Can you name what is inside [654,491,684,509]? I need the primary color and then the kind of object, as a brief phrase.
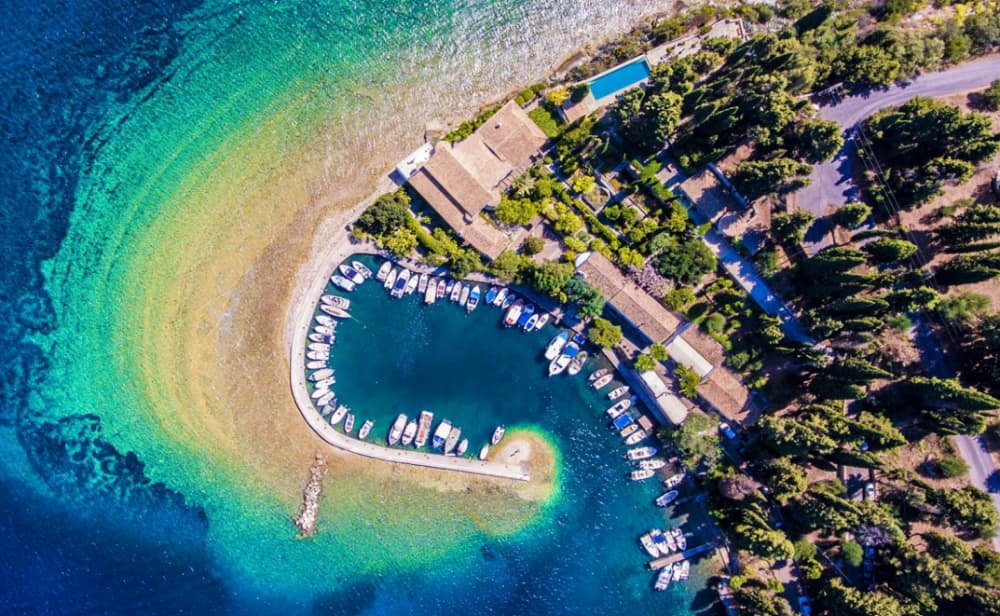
blue boat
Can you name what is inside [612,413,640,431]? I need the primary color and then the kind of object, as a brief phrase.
blue boat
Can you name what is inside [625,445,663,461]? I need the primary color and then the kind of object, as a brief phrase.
white boat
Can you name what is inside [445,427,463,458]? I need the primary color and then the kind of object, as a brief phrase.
white boat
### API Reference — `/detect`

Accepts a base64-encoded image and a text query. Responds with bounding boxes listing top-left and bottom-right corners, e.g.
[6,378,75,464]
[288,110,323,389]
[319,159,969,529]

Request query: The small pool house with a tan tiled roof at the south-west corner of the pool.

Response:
[564,98,592,125]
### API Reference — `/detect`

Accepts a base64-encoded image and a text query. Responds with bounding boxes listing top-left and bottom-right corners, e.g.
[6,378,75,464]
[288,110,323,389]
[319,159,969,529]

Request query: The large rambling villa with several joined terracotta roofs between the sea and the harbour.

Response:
[409,100,548,260]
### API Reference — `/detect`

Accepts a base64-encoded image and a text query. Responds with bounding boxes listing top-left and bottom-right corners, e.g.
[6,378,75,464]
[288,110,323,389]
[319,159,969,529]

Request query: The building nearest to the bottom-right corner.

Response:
[695,369,752,421]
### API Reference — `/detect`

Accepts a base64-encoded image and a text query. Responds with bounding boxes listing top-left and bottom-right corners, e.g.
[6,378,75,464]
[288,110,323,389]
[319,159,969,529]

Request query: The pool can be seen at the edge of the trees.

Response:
[587,56,653,103]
